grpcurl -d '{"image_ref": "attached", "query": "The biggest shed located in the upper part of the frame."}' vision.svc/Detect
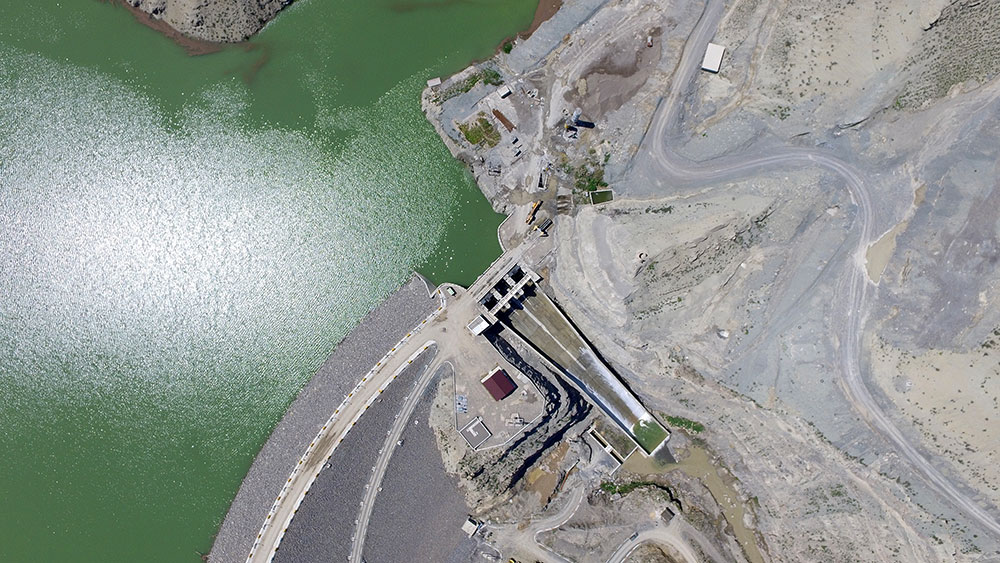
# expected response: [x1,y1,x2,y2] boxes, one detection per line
[699,43,725,74]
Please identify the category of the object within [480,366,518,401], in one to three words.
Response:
house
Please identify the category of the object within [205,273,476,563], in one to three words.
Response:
dam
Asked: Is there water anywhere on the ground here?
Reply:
Yes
